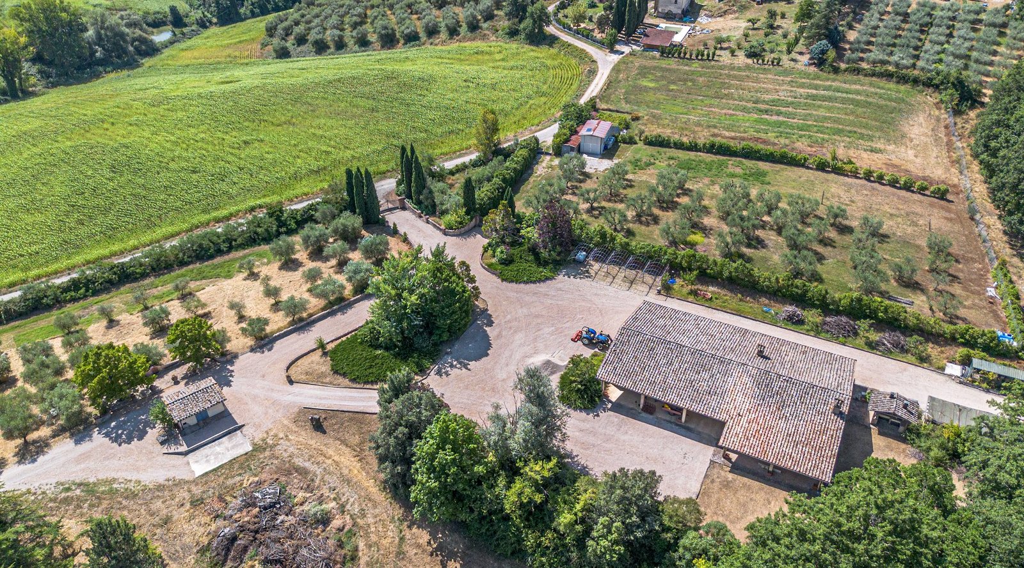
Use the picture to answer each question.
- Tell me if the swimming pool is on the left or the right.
right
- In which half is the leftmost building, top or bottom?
bottom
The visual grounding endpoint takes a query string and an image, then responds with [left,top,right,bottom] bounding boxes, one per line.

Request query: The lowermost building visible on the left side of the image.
[162,377,227,438]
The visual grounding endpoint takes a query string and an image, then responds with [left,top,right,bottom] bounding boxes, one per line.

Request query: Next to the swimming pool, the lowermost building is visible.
[641,28,676,56]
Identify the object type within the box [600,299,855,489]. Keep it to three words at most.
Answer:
barn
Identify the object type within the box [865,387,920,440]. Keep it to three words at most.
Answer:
building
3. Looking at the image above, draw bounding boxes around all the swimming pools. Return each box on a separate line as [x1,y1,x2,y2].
[654,23,694,44]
